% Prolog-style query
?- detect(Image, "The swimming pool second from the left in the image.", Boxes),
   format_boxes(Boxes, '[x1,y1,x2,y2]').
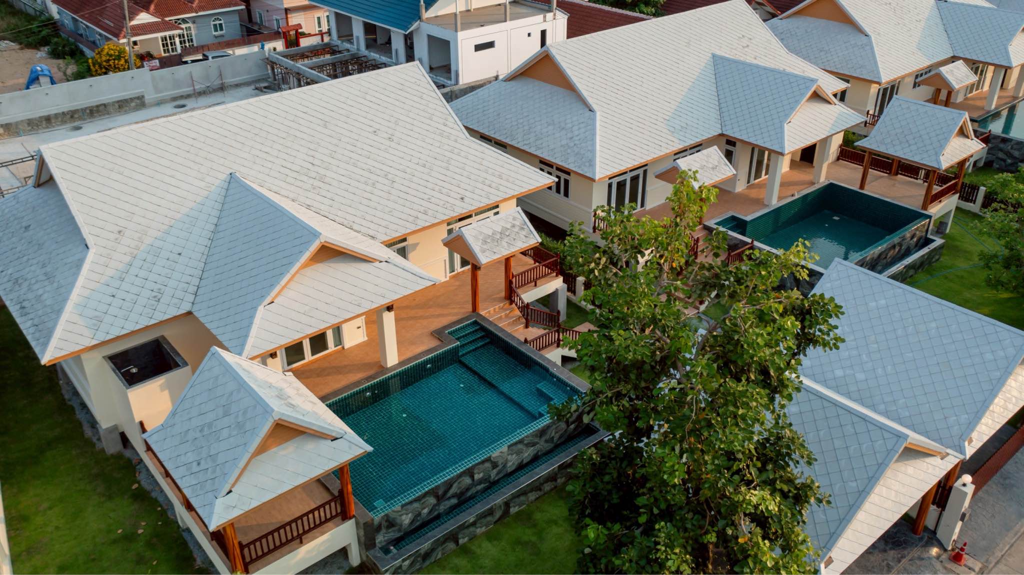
[703,179,949,306]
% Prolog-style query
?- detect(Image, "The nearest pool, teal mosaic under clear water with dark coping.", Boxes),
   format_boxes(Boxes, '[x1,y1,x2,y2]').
[319,314,610,575]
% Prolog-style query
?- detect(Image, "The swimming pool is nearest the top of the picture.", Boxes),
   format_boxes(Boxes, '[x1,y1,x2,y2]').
[978,98,1024,175]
